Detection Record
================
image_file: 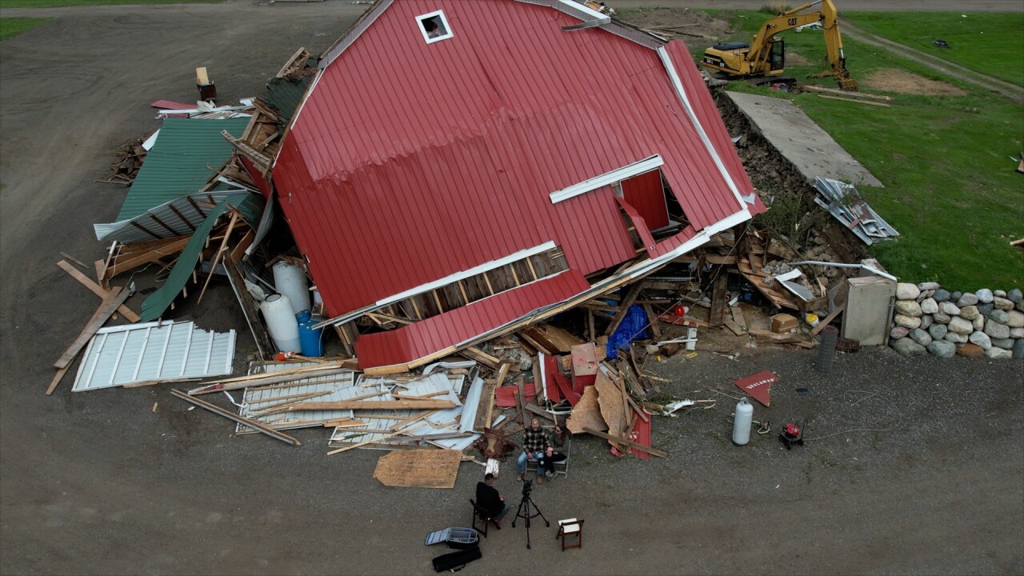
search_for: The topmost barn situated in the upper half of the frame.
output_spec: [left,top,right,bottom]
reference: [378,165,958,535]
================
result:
[269,0,767,377]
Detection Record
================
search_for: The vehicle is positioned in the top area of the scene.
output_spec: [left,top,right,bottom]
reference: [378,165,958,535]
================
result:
[710,0,857,92]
